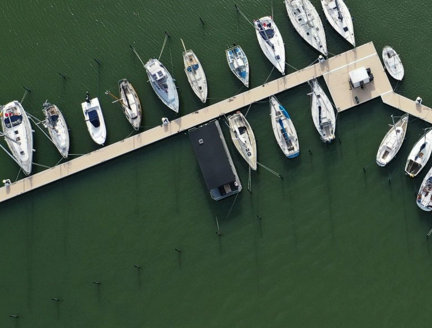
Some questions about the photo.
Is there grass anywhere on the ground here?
No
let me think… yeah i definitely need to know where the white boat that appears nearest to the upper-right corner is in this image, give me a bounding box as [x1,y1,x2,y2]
[384,45,403,83]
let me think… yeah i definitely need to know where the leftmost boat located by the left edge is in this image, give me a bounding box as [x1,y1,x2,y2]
[0,90,46,181]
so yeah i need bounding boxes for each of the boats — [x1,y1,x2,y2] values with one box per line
[417,170,432,212]
[384,45,403,83]
[261,89,300,160]
[309,80,337,145]
[184,116,243,234]
[180,37,213,108]
[225,44,252,98]
[319,0,357,51]
[132,33,180,117]
[377,112,418,167]
[235,6,295,84]
[104,78,152,132]
[407,128,432,178]
[25,97,86,160]
[224,106,281,190]
[0,90,46,181]
[81,96,109,149]
[283,0,331,63]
